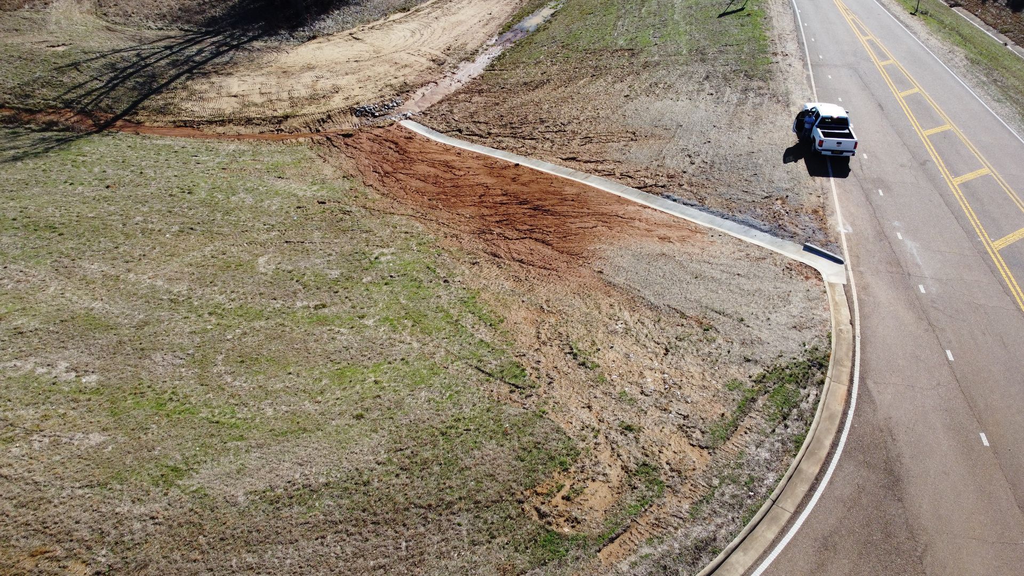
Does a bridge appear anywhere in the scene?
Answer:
No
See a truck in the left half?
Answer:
No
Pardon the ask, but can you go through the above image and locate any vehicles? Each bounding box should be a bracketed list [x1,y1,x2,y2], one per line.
[788,101,857,157]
